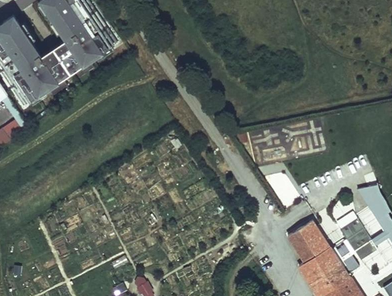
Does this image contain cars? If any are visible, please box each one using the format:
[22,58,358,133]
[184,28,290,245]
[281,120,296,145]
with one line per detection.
[262,262,272,270]
[320,176,328,186]
[267,202,274,213]
[354,159,361,170]
[302,184,310,195]
[336,168,343,179]
[348,164,356,174]
[259,256,270,264]
[263,194,270,206]
[358,156,366,167]
[313,178,321,189]
[324,172,332,184]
